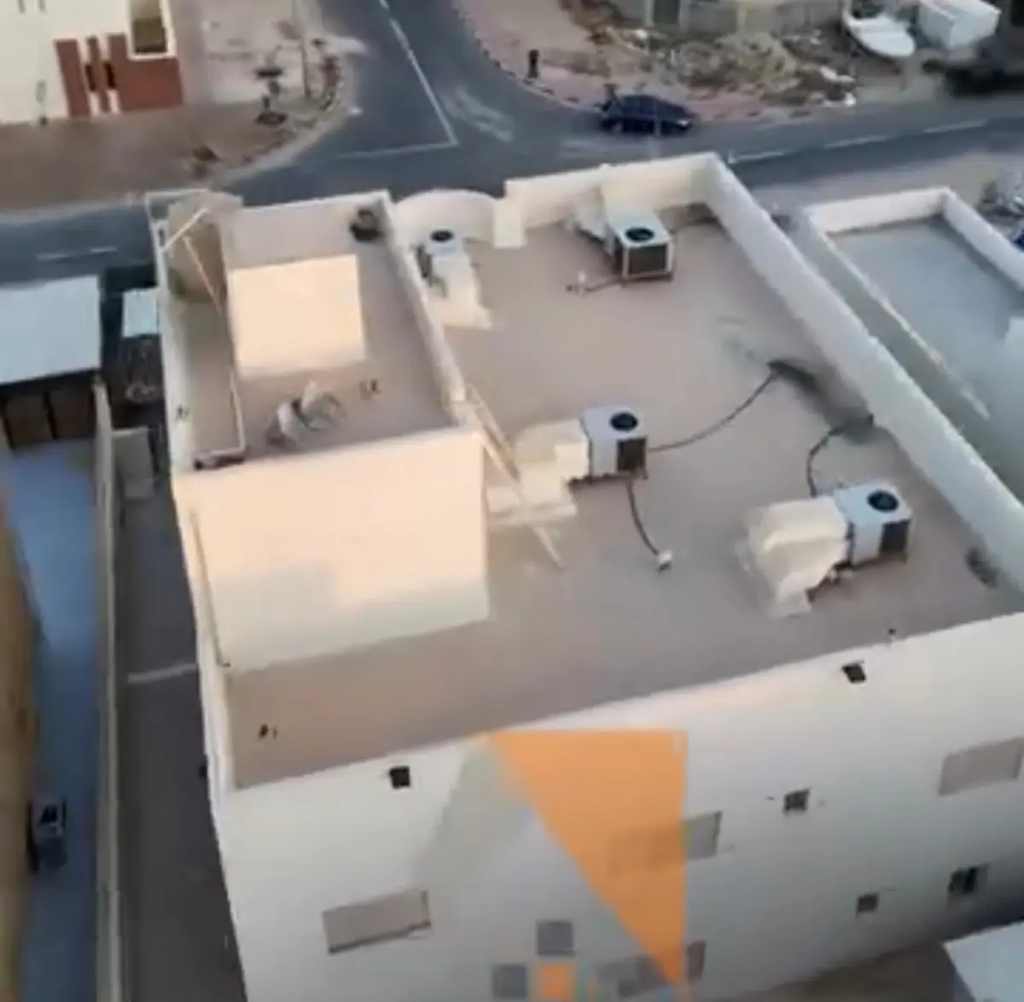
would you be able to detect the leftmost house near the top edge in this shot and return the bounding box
[0,0,185,124]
